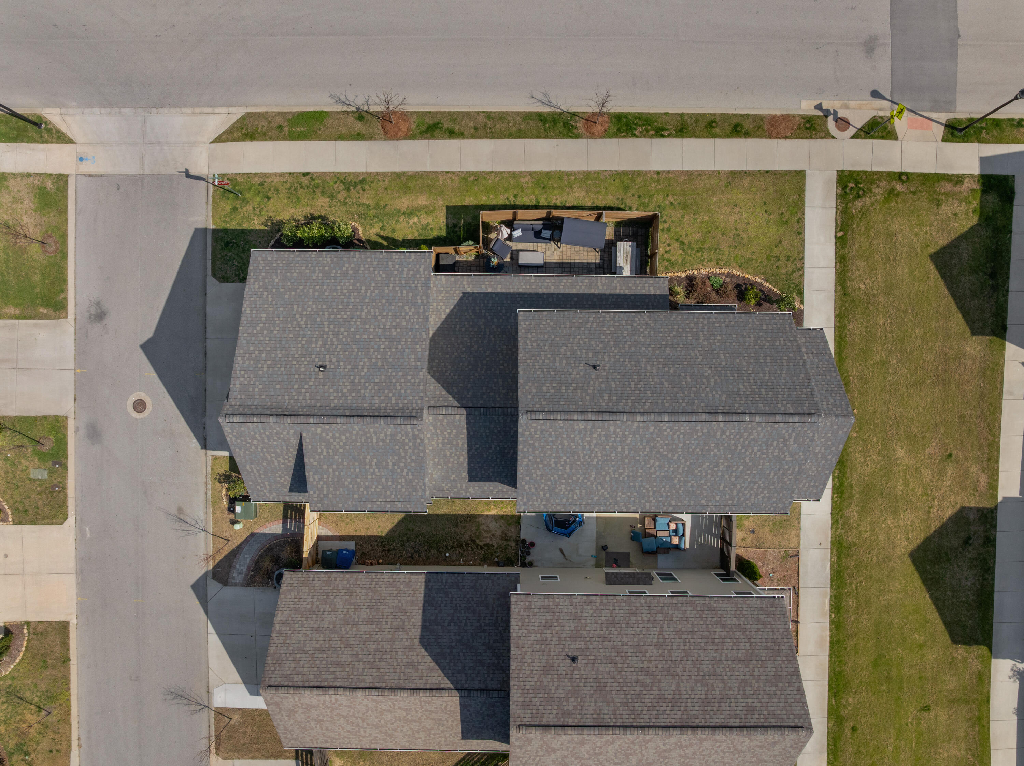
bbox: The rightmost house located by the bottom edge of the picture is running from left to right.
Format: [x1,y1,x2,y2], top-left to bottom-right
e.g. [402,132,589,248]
[261,559,814,766]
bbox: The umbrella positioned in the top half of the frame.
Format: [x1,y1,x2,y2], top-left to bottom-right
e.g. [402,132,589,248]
[494,220,511,238]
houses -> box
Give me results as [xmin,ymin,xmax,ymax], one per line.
[261,559,814,766]
[220,251,853,513]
